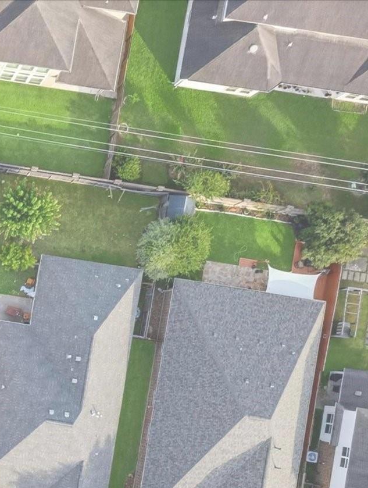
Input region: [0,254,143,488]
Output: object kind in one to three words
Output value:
house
